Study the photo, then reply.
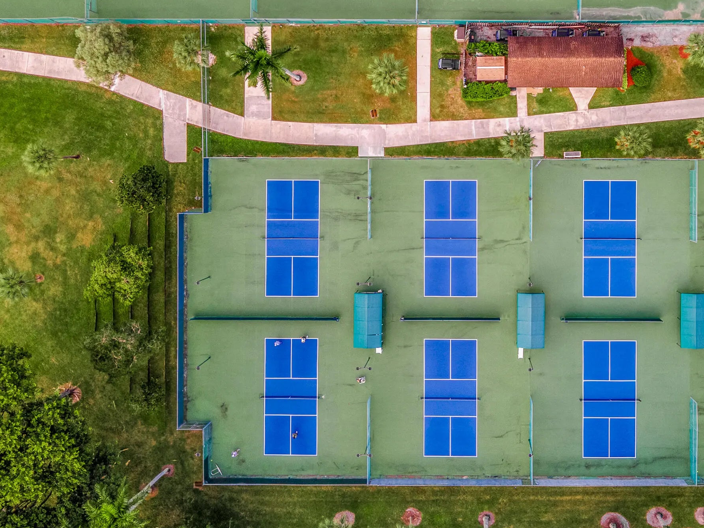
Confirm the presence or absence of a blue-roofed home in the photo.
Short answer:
No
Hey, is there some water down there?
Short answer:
No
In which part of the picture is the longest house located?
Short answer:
top right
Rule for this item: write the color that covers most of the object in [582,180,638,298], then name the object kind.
blue sports court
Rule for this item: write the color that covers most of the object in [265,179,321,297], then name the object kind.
blue sports court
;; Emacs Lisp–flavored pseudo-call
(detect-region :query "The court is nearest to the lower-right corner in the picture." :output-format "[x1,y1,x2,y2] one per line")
[582,341,637,458]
